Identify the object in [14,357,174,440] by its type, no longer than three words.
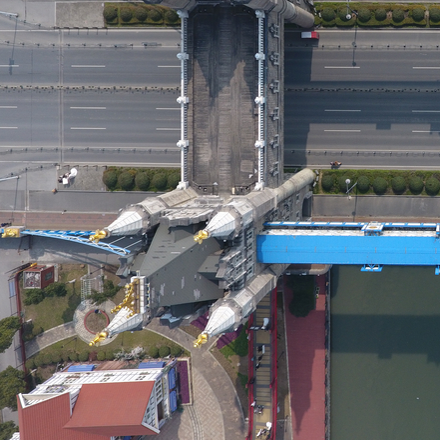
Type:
house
